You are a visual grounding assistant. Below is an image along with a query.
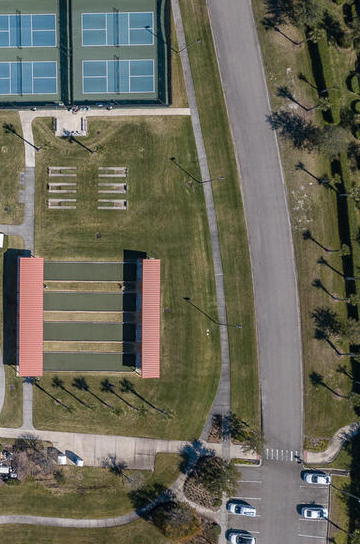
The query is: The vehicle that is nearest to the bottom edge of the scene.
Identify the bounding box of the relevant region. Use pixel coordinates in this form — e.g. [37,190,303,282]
[228,532,256,544]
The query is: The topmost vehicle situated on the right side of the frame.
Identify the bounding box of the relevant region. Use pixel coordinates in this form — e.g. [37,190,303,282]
[303,472,329,485]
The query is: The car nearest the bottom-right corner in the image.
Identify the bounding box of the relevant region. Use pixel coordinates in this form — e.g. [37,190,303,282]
[301,506,327,519]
